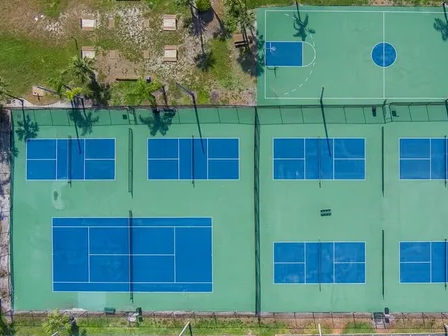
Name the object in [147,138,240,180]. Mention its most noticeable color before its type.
blue sports court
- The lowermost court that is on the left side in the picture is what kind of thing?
tennis court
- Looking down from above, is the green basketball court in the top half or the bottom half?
top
